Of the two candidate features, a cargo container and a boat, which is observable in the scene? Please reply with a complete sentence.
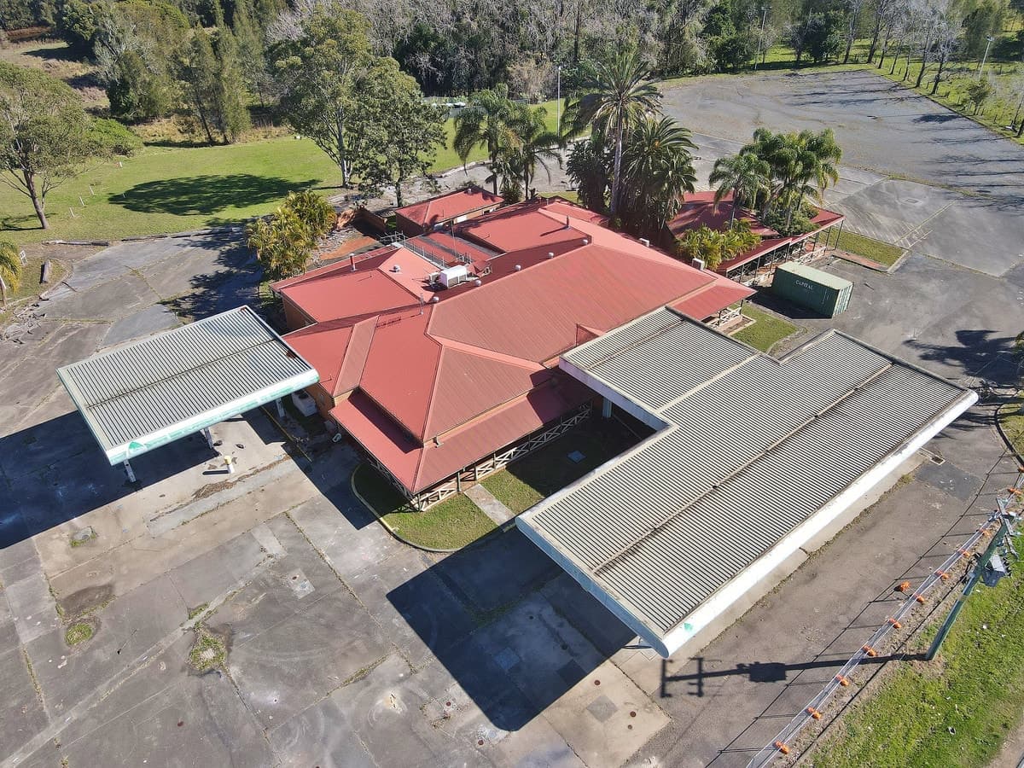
There is a cargo container in the scene.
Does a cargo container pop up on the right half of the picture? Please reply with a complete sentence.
Yes, a cargo container appears on the right half of the picture.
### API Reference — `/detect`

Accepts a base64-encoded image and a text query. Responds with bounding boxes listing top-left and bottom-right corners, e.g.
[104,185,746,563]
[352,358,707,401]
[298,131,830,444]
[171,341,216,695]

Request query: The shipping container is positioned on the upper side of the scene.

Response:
[765,257,854,318]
